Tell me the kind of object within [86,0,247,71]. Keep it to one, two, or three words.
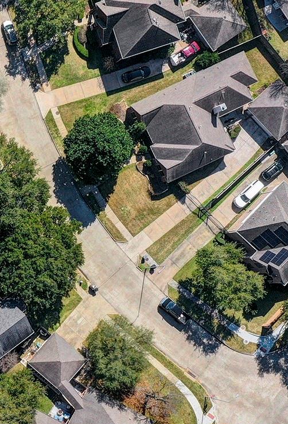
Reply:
house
